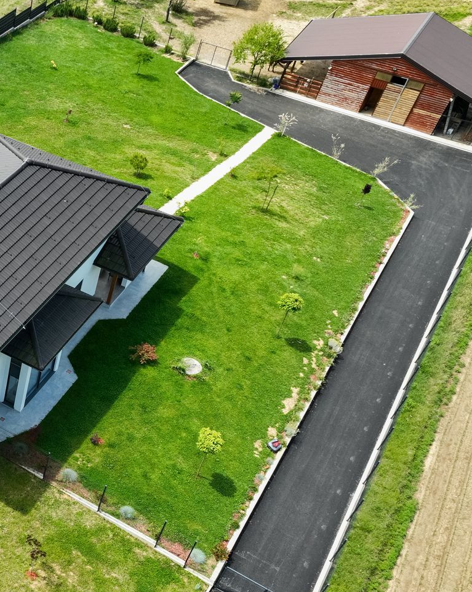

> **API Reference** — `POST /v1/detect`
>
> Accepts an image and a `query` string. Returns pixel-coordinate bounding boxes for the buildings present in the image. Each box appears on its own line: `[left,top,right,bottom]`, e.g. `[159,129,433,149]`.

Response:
[0,138,187,412]
[277,13,472,144]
